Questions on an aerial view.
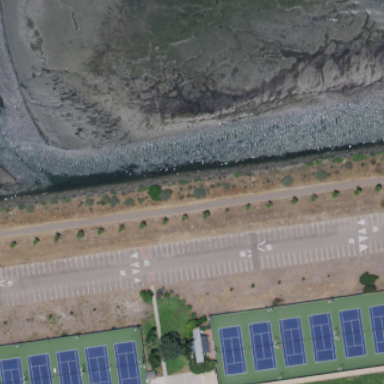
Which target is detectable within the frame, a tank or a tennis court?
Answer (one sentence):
Looking from above, you can make out a tennis court.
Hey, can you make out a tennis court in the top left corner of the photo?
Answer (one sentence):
No, there's no tennis court to be seen in the top left corner of the photo.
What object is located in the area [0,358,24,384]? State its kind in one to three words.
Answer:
tennis court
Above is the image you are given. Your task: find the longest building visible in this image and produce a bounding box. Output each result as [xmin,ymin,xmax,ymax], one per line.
[194,329,210,363]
